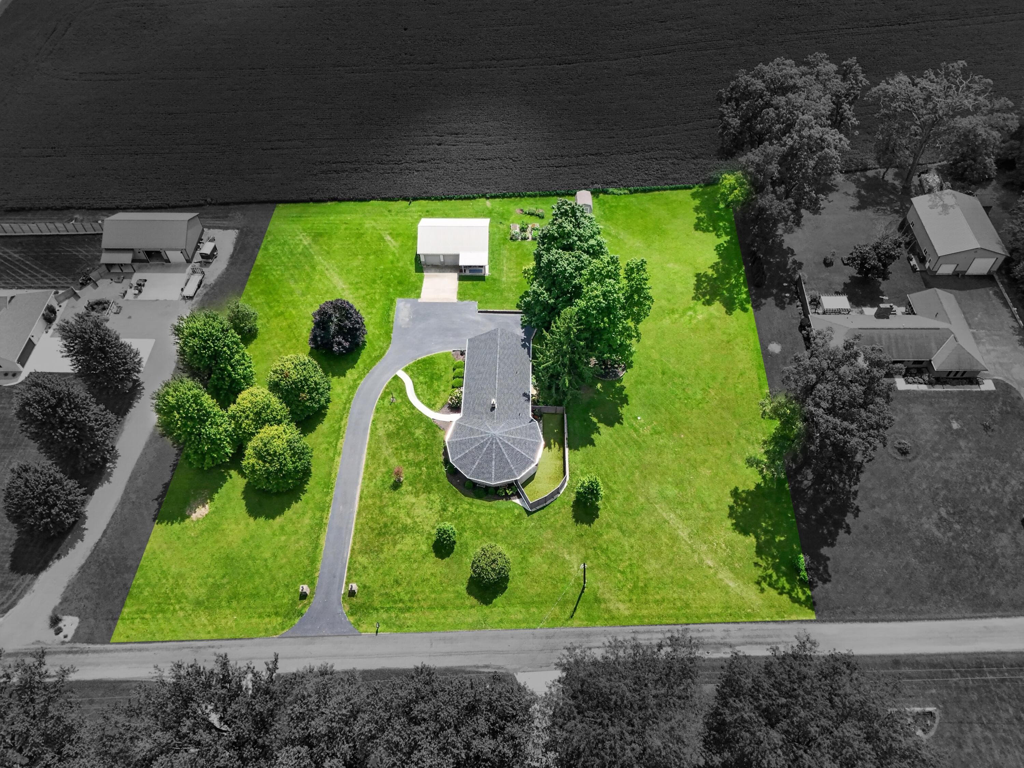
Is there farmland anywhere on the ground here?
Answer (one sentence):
Yes, there is farmland in the image.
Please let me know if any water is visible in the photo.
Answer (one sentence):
No, water can't be seen anywhere here.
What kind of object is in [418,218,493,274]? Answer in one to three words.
barn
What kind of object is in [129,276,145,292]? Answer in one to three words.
work vehicle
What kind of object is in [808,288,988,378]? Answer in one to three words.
house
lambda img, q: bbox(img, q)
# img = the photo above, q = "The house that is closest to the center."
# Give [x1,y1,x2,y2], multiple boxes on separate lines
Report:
[445,328,545,487]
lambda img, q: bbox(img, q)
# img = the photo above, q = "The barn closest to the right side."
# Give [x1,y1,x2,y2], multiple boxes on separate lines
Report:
[902,188,1009,275]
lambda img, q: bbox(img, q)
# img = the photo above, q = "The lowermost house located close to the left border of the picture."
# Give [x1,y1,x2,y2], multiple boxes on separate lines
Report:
[0,290,58,371]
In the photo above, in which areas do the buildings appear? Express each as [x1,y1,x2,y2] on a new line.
[0,290,58,371]
[418,218,493,274]
[445,328,545,487]
[902,188,1009,275]
[100,213,205,272]
[808,288,988,378]
[575,190,592,216]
